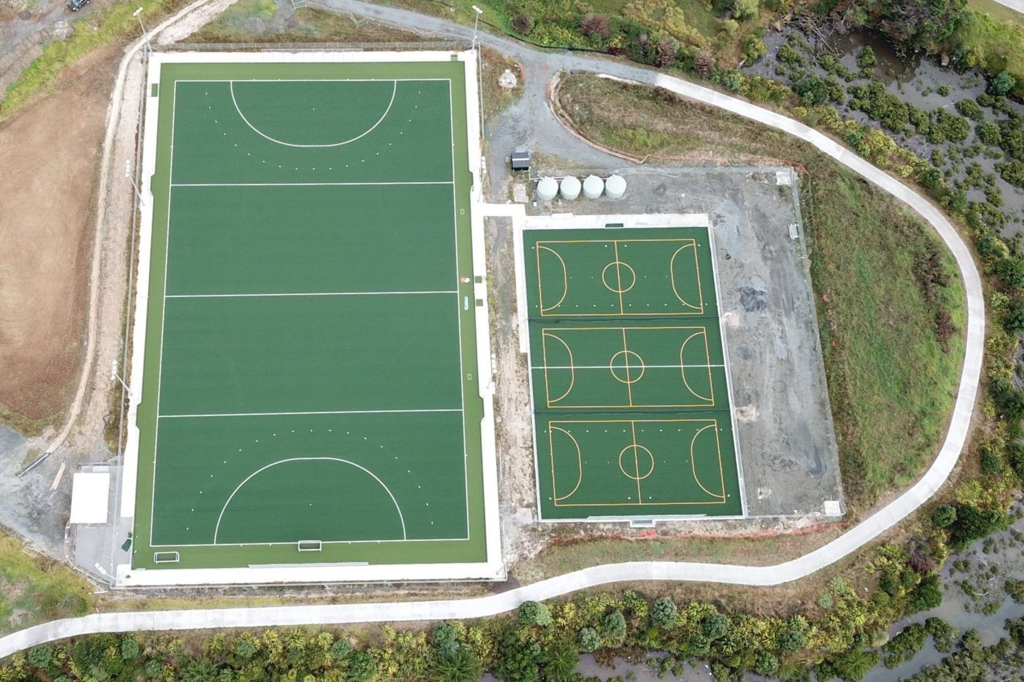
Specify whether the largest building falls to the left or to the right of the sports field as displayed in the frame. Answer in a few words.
on its left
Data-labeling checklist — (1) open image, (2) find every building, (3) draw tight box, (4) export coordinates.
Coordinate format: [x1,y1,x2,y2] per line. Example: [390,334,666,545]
[512,152,529,171]
[70,466,112,525]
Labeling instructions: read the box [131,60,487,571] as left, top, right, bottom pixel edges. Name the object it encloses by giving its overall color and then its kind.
green sports field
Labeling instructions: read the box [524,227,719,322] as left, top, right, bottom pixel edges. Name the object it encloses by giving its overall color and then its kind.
green sports court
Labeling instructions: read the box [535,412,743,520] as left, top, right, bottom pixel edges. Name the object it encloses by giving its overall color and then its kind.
green sports court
